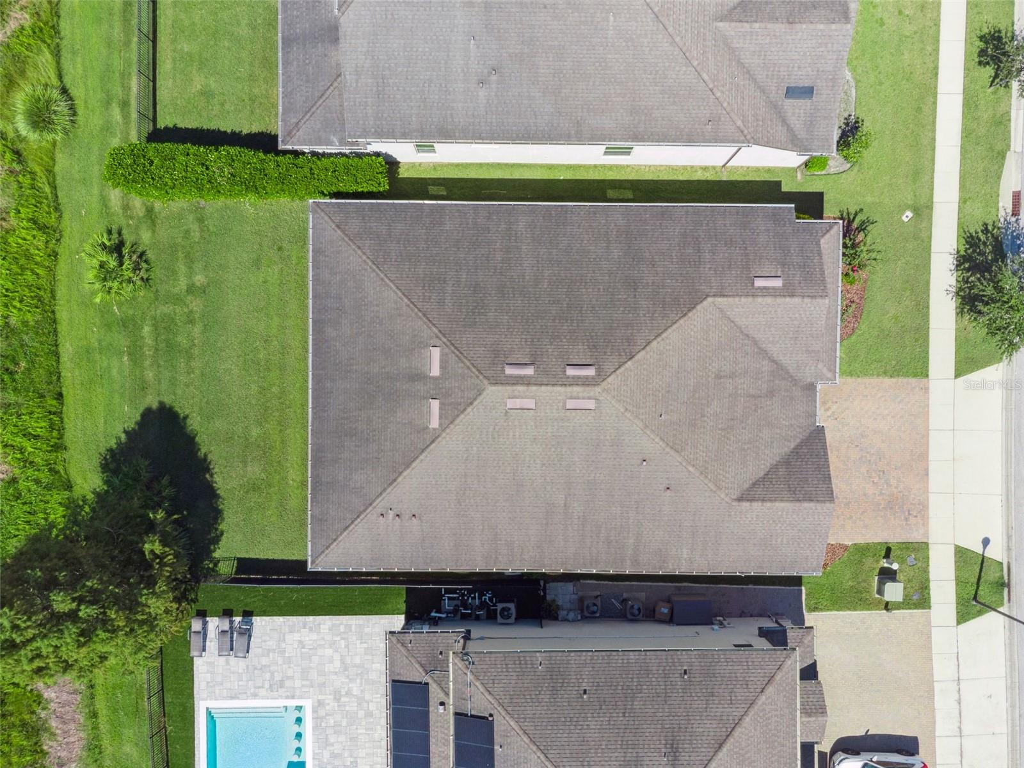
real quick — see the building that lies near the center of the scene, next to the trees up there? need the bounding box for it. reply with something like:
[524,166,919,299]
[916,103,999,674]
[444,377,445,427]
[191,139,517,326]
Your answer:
[308,201,842,572]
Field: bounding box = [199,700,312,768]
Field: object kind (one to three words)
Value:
swimming pool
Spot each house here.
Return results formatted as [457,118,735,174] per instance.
[387,618,826,768]
[279,0,856,175]
[308,201,842,572]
